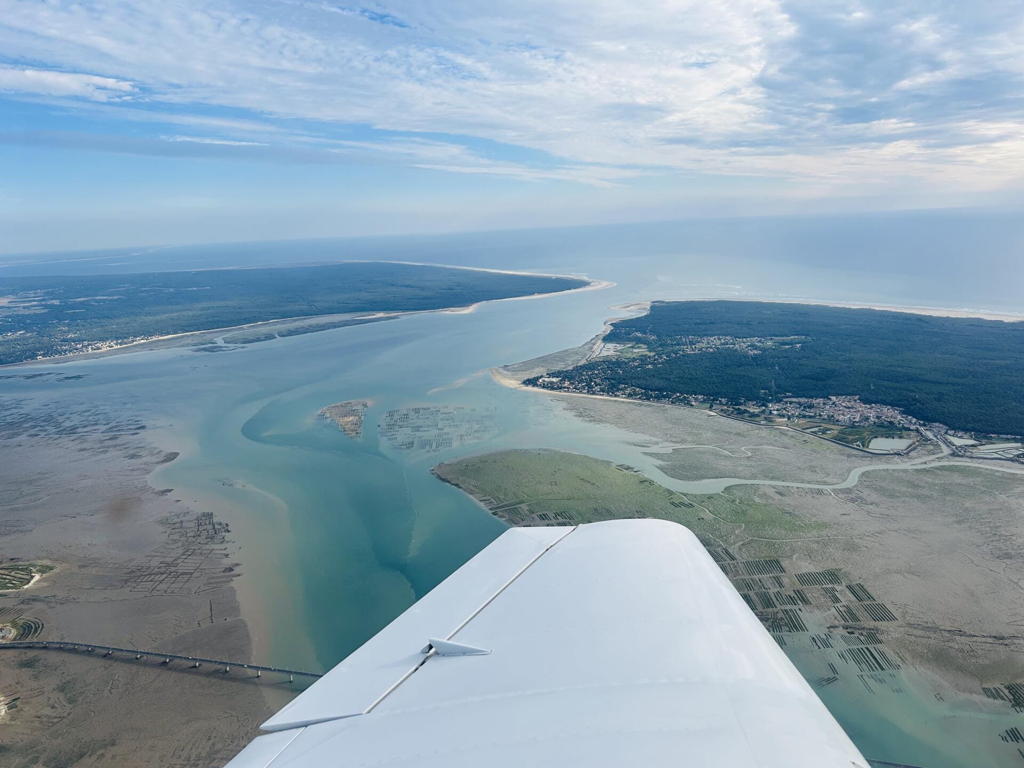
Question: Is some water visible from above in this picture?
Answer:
Yes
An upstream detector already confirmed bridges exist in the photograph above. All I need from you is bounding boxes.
[0,640,326,682]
